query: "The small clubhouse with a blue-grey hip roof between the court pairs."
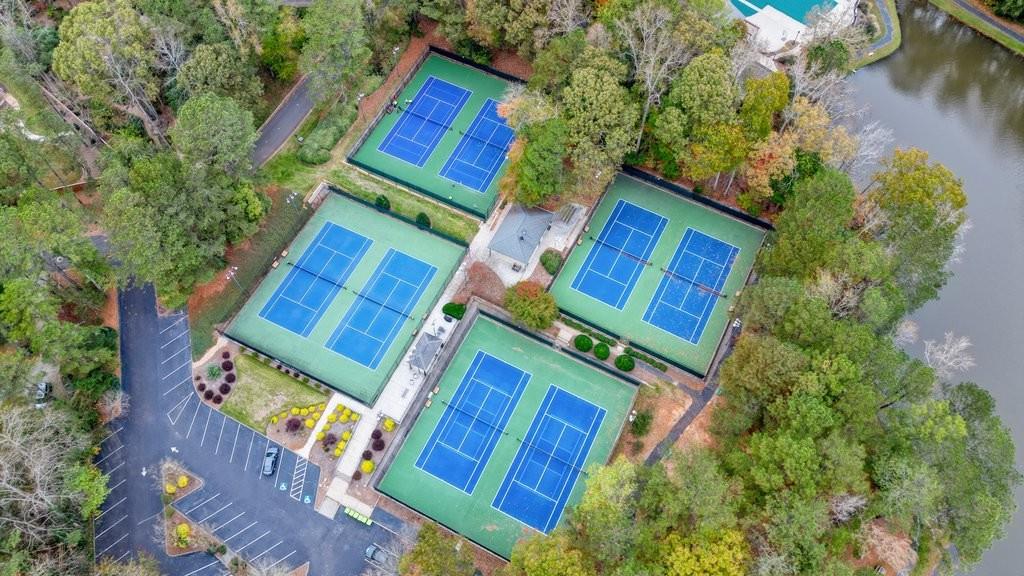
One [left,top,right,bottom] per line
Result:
[488,202,553,265]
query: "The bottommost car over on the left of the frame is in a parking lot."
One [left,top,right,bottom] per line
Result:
[366,545,395,568]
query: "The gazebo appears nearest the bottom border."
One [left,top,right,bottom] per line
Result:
[410,332,442,374]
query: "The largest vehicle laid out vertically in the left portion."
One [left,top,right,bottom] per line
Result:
[262,447,278,474]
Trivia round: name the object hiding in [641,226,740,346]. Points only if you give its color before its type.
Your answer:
blue tennis court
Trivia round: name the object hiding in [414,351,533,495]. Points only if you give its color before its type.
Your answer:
blue tennis court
